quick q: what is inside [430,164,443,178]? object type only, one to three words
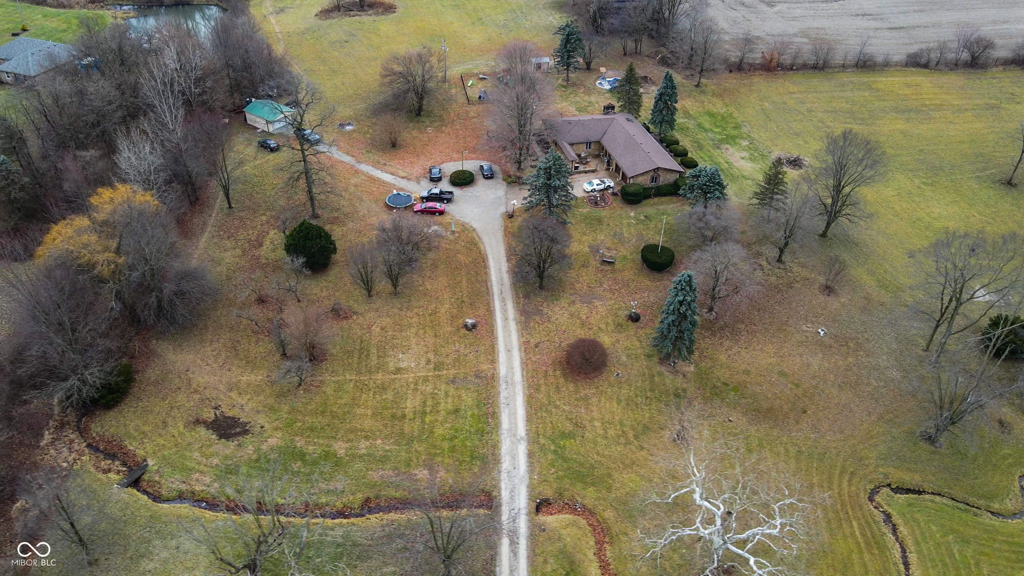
vehicle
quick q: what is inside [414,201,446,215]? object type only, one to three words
car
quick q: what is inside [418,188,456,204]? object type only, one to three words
vehicle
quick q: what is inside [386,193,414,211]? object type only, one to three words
trampoline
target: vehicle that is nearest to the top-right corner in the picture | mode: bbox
[584,178,612,191]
